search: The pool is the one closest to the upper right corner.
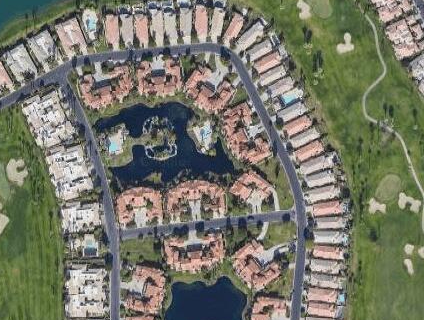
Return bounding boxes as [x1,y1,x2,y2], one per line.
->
[277,90,302,107]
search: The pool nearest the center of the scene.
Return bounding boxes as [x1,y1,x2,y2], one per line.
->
[195,122,212,150]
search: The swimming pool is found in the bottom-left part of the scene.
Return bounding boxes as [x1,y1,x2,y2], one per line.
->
[82,234,98,257]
